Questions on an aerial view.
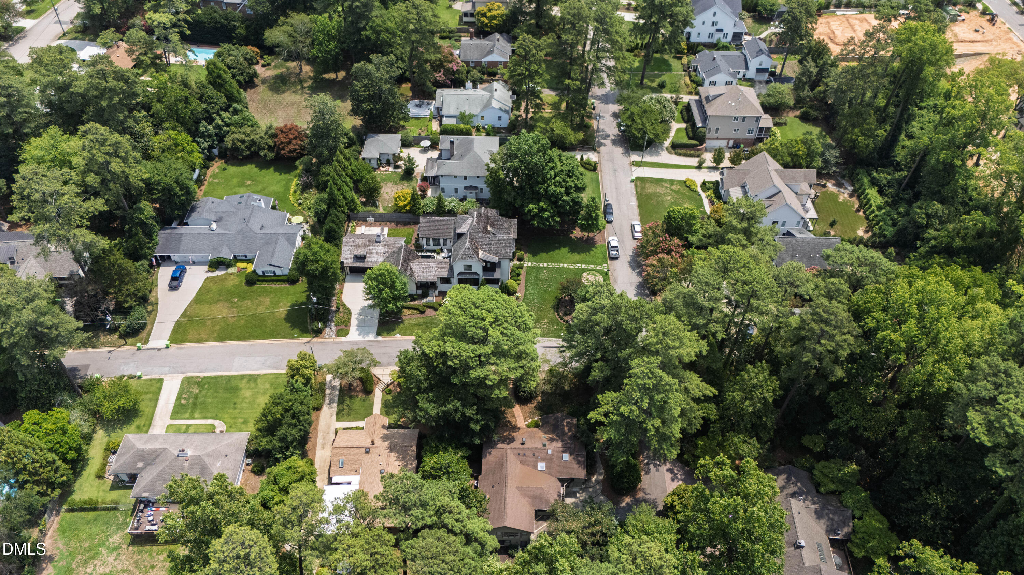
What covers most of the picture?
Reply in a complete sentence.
The scene is dominated by trees.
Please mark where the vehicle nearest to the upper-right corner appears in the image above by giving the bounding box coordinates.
[974,6,1001,24]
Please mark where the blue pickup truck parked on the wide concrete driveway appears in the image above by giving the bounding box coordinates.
[167,267,188,290]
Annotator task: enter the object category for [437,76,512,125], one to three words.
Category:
house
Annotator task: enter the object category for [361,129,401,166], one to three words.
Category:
house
